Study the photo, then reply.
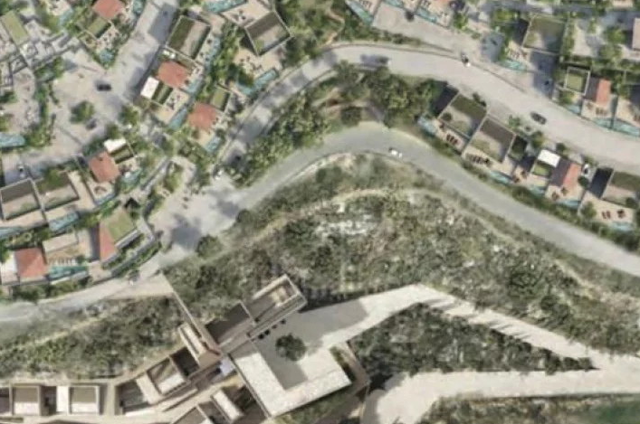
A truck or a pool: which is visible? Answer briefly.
pool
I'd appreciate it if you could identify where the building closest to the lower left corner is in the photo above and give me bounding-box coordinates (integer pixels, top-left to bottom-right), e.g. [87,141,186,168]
[13,385,40,414]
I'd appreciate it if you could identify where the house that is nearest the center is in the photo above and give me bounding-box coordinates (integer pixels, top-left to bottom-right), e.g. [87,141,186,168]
[243,276,307,337]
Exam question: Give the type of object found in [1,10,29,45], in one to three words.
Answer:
house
